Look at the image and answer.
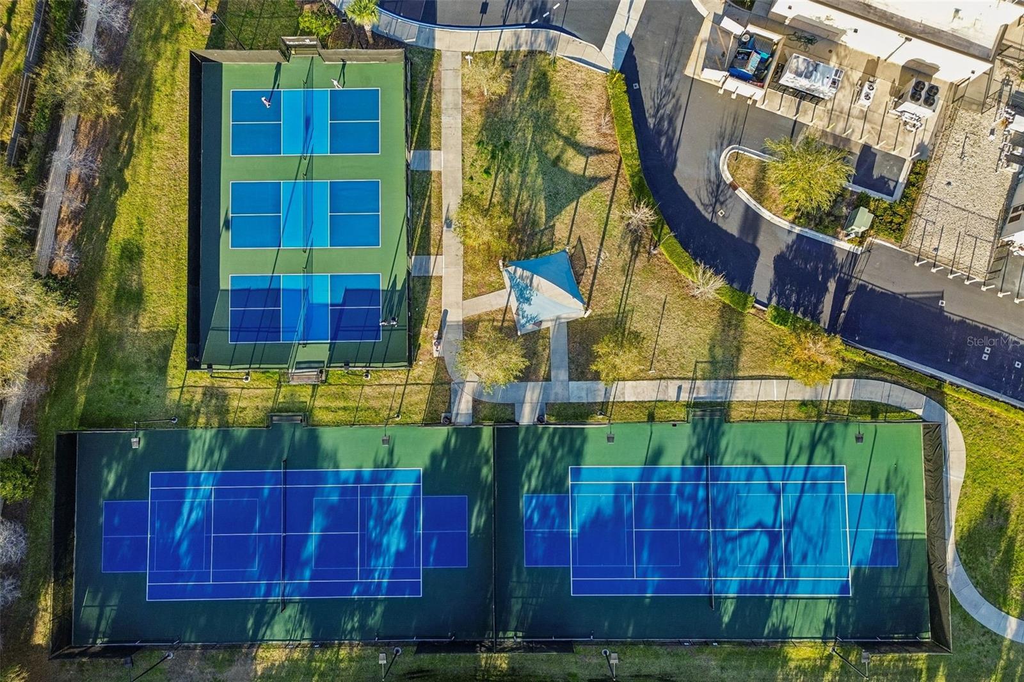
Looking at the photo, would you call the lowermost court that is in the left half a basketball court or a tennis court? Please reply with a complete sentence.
It turns out the lowermost court that is in the left half is a tennis court.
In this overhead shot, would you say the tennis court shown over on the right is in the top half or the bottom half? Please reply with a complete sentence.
Seen from above, the tennis court shown over on the right lies in the bottom half of the view.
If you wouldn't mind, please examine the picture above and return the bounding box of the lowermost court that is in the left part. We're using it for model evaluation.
[74,415,494,643]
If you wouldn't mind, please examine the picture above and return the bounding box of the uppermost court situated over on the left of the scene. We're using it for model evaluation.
[203,56,406,167]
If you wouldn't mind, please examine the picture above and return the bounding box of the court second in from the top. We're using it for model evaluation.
[203,166,407,262]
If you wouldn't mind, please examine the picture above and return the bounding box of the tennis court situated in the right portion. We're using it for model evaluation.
[494,410,929,640]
